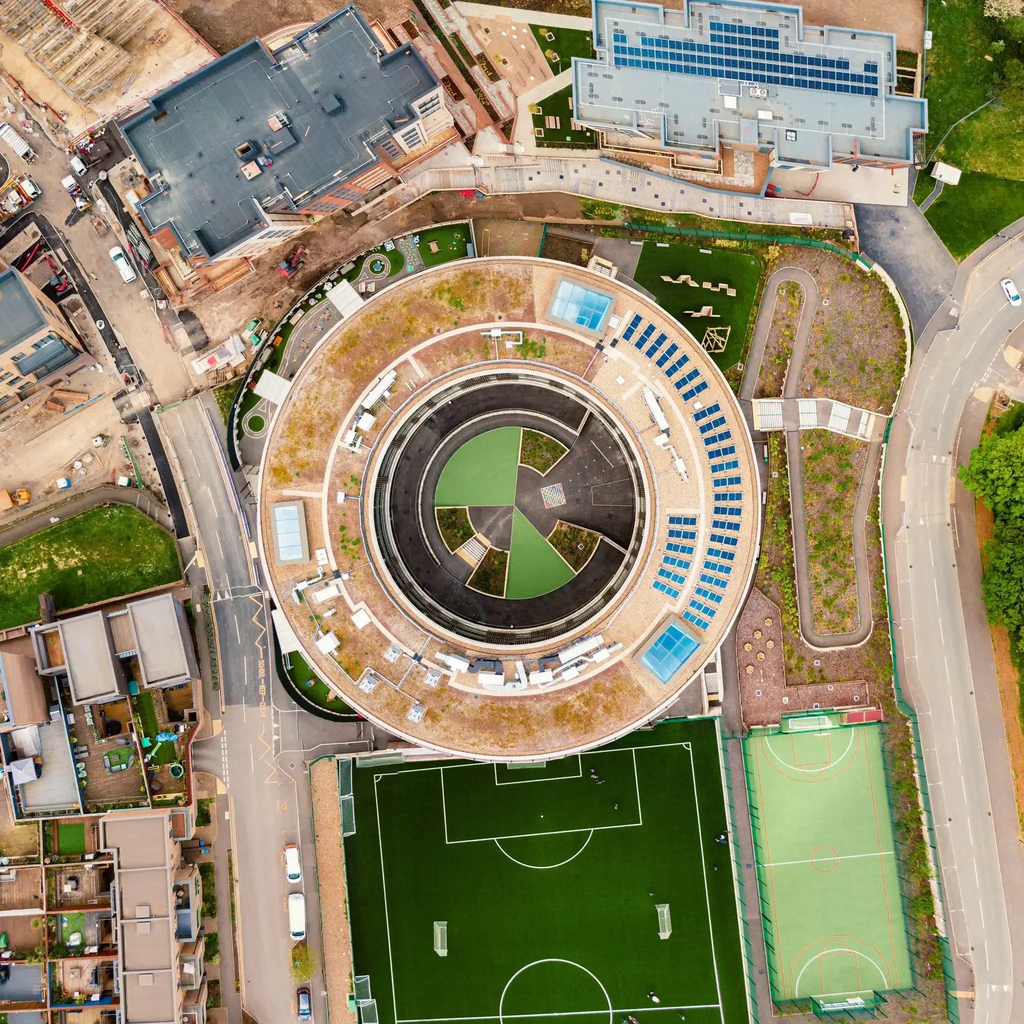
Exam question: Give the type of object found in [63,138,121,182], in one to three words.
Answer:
truck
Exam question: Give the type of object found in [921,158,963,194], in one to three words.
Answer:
shed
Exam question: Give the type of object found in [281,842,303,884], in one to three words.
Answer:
vehicle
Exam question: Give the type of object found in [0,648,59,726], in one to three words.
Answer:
house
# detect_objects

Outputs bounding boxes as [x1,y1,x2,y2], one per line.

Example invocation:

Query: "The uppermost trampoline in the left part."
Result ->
[106,718,124,735]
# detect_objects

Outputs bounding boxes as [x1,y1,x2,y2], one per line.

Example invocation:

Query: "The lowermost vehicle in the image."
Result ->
[294,985,313,1021]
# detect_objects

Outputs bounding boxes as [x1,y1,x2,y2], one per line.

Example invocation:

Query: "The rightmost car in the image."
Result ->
[996,273,1024,312]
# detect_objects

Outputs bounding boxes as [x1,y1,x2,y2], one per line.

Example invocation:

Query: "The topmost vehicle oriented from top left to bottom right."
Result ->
[0,115,39,172]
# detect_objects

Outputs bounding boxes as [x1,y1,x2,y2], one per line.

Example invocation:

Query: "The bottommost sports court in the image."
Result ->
[744,714,913,999]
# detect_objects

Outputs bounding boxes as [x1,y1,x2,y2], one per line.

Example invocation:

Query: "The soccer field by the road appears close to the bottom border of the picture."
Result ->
[344,718,749,1024]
